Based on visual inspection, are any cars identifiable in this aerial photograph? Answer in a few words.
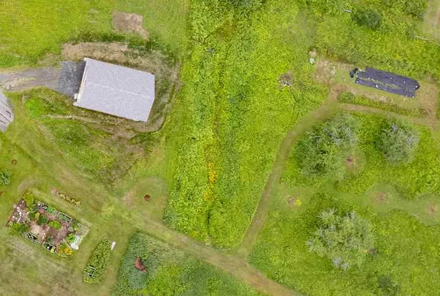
No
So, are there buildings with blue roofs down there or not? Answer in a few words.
No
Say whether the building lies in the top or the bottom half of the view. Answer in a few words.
top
